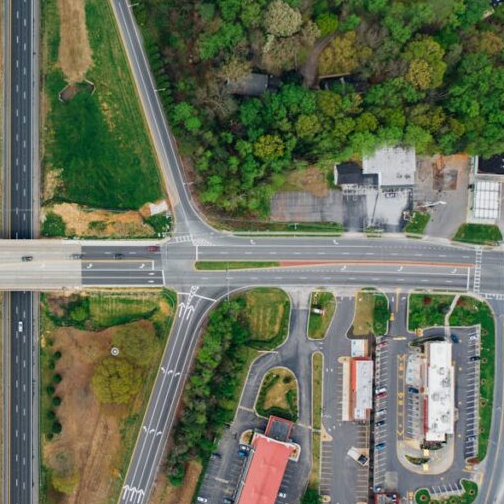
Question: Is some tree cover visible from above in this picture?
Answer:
Yes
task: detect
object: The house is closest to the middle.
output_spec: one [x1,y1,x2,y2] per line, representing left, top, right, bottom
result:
[334,164,380,191]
